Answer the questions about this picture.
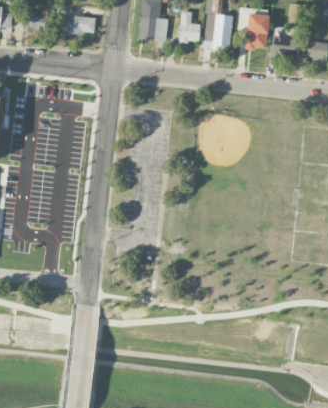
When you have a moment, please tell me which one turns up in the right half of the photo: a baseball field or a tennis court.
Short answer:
baseball field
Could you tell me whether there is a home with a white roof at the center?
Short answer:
No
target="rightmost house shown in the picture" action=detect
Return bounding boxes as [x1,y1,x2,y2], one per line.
[308,40,328,62]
